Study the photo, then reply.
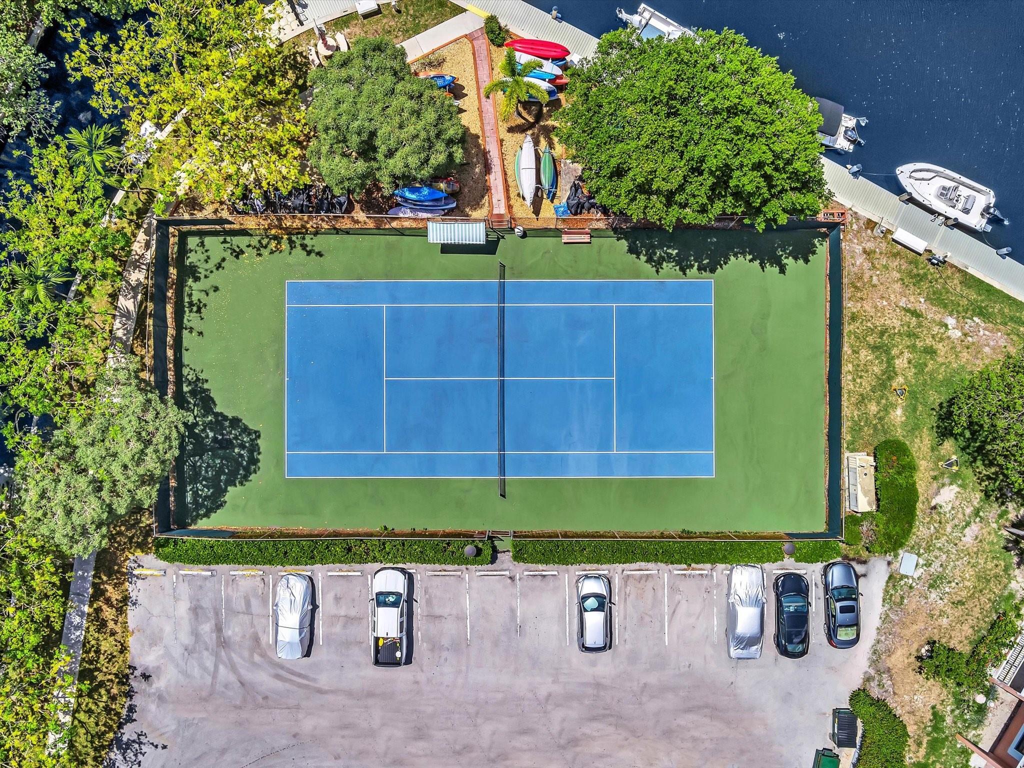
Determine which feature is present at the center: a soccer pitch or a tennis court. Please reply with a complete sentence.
Visible at the center is a tennis court.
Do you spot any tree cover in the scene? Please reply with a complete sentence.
Yes, some tree cover is visible.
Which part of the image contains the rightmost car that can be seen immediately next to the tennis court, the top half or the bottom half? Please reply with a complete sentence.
You can find the rightmost car that can be seen immediately next to the tennis court in the bottom half.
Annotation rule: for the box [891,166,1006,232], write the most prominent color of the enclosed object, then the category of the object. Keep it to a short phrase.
white boat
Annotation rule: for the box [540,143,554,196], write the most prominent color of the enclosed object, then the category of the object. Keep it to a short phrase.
green boat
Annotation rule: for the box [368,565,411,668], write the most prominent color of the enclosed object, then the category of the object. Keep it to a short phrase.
white truck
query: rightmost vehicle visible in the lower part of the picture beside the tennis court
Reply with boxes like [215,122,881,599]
[818,560,863,648]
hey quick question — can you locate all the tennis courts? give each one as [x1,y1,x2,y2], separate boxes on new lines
[173,229,826,531]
